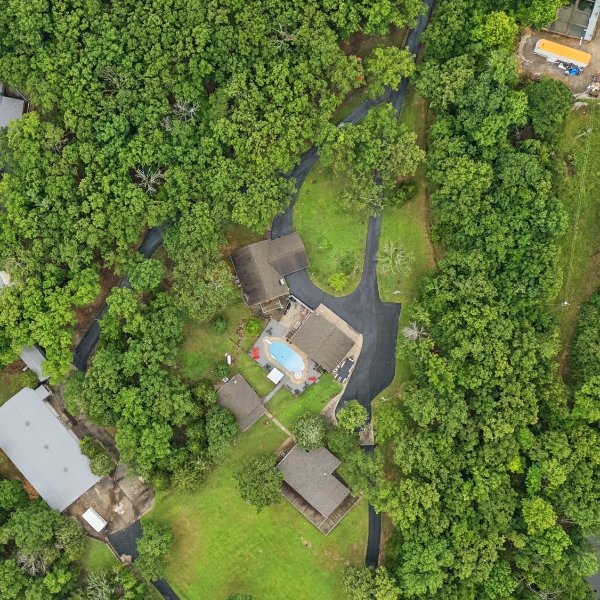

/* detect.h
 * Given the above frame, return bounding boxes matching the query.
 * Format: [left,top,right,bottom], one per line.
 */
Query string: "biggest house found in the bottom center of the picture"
[278,445,361,535]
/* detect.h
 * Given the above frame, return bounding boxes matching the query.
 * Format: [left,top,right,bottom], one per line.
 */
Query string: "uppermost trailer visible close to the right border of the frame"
[534,38,591,66]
